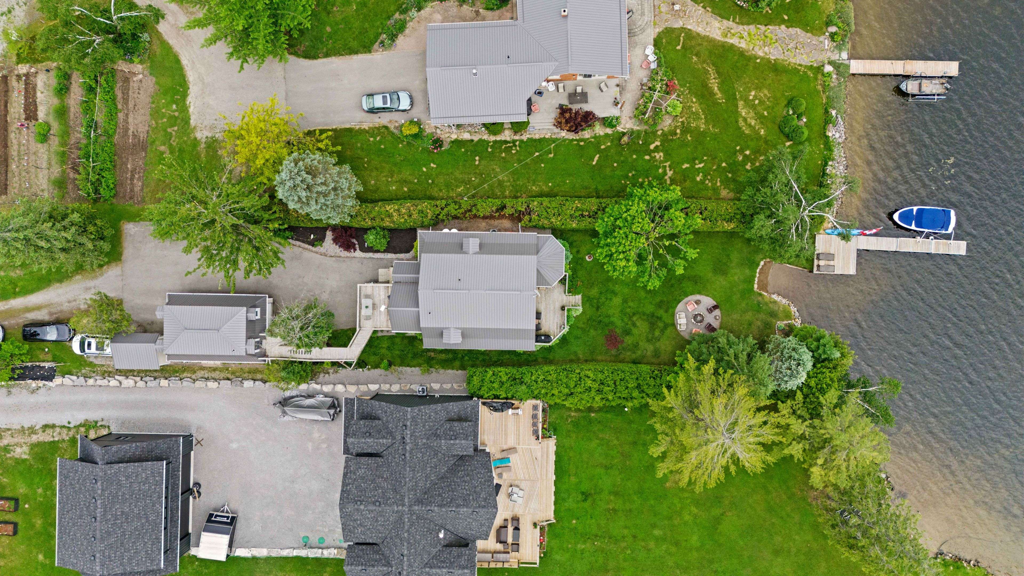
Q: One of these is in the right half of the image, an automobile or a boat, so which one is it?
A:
boat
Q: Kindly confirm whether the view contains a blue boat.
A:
Yes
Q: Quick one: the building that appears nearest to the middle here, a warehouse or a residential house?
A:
residential house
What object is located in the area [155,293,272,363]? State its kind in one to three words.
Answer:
building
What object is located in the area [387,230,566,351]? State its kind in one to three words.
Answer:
house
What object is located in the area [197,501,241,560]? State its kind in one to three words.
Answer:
trailer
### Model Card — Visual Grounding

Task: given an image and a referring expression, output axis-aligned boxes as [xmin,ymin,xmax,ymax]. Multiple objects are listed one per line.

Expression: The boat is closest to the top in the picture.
[899,78,953,94]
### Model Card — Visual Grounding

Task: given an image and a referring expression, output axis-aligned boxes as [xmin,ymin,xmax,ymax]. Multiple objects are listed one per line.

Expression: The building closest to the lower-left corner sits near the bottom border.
[54,432,195,576]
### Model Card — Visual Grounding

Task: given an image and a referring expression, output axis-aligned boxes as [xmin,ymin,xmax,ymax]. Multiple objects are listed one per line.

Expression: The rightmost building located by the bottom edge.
[339,392,497,576]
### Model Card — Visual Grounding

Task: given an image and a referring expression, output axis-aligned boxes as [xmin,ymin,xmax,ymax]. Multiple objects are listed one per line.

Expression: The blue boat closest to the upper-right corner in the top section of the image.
[893,207,955,234]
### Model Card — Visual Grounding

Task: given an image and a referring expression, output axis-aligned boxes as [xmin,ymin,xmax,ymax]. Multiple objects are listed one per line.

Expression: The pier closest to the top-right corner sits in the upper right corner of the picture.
[847,58,961,79]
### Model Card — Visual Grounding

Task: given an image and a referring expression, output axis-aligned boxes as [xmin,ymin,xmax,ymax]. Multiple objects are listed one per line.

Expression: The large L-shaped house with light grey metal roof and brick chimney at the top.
[426,0,630,126]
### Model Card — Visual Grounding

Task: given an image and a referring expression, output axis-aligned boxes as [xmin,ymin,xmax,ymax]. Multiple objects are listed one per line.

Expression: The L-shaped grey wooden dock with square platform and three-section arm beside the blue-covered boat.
[811,234,969,275]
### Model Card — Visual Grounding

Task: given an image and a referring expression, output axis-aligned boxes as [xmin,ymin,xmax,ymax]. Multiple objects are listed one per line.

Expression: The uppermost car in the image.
[361,89,412,115]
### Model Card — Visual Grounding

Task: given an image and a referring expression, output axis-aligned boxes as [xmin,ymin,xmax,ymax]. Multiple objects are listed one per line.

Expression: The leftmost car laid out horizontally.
[19,322,75,344]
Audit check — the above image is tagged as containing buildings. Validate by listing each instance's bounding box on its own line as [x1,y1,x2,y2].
[155,293,272,363]
[54,432,195,576]
[387,230,566,351]
[339,392,497,576]
[426,0,630,126]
